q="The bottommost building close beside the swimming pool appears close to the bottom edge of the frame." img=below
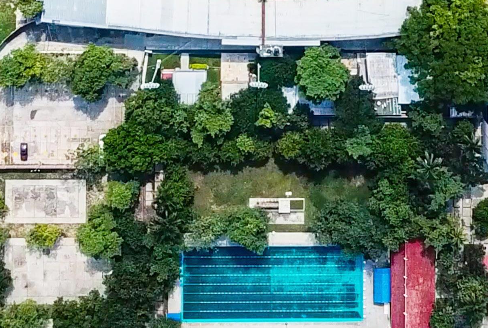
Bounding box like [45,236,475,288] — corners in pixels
[391,240,434,328]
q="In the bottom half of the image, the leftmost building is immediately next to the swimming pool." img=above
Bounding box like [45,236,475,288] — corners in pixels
[250,197,305,224]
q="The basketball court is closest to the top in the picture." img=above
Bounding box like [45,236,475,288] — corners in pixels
[5,179,86,223]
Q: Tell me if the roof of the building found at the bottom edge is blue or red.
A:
red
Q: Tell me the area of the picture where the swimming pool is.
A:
bottom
